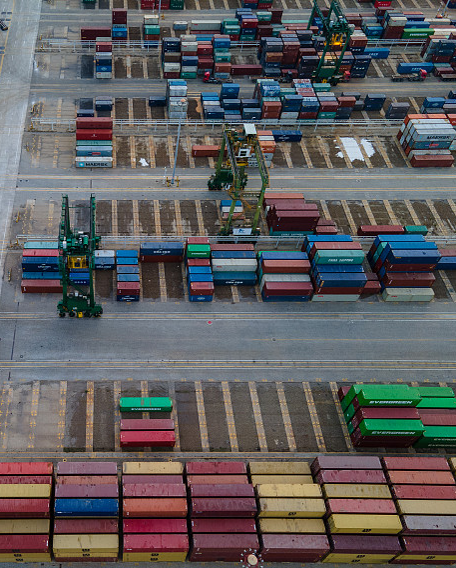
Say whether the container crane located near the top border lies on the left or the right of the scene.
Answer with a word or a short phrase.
right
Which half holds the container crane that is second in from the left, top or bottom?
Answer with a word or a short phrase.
top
